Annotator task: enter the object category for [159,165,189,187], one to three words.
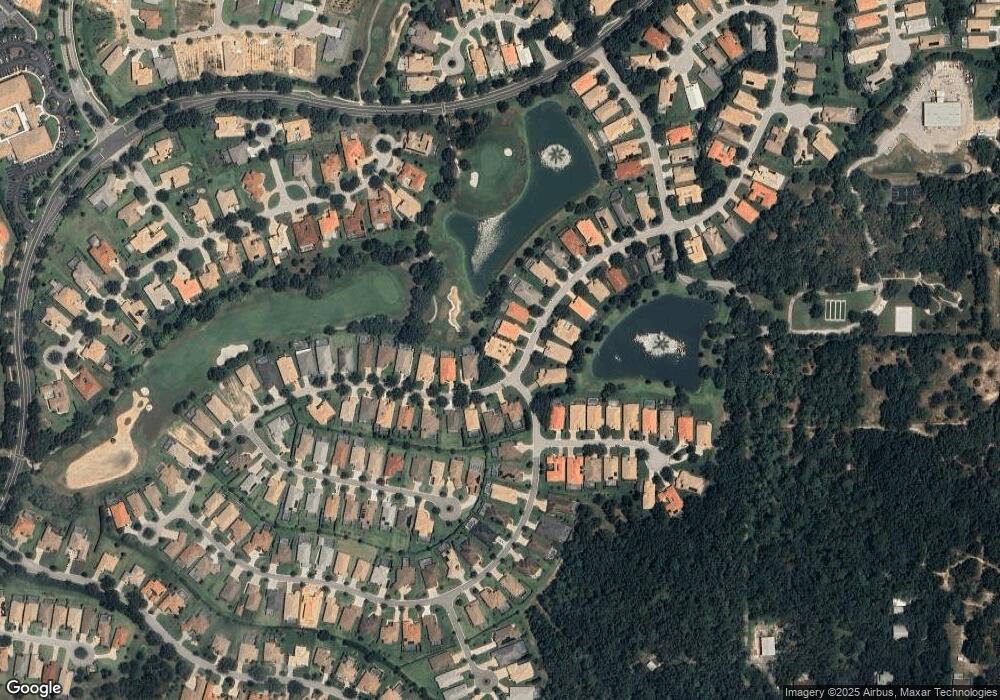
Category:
house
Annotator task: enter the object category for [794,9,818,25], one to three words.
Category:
house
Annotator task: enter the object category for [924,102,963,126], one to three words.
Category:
building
